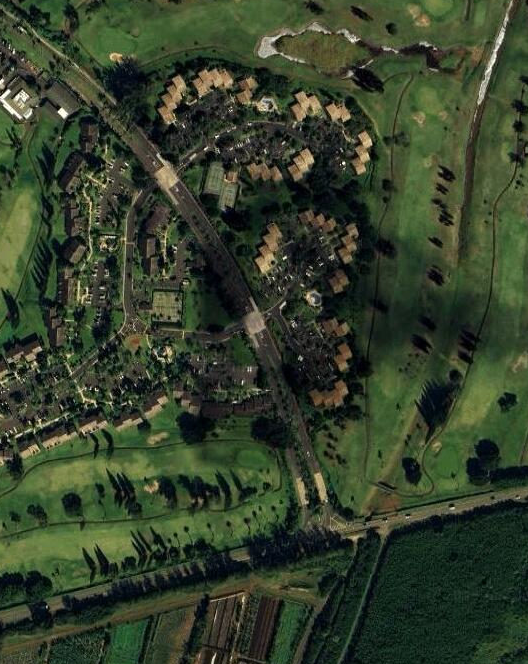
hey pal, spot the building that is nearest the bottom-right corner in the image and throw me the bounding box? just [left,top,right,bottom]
[308,379,348,408]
